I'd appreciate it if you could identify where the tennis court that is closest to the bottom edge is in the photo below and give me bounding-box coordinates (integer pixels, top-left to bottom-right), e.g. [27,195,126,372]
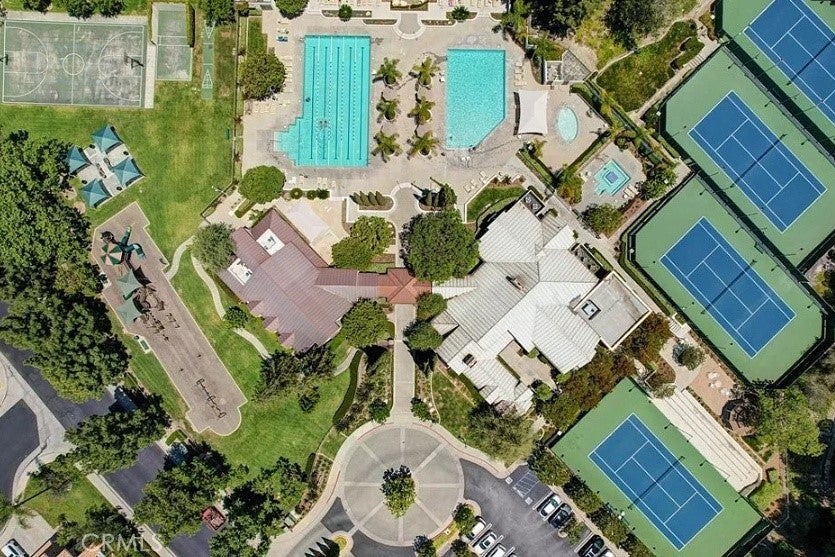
[552,379,762,557]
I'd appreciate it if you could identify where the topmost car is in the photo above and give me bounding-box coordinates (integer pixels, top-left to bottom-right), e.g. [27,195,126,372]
[112,387,135,411]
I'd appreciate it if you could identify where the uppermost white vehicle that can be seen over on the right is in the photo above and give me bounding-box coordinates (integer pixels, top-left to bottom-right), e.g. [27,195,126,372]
[538,494,563,518]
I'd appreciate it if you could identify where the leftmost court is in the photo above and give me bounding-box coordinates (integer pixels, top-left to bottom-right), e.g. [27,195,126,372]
[0,20,147,108]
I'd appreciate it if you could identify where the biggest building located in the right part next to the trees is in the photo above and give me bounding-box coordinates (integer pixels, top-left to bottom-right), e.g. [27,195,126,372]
[431,190,652,412]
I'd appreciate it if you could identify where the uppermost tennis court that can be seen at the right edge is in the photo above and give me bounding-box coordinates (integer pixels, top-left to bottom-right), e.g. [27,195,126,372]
[722,0,835,143]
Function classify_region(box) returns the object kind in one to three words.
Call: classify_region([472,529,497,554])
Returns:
car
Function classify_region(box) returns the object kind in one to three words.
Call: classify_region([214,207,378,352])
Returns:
building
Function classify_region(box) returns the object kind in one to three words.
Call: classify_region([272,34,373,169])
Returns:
swimming pool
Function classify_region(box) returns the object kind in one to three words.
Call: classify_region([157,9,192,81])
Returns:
sports court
